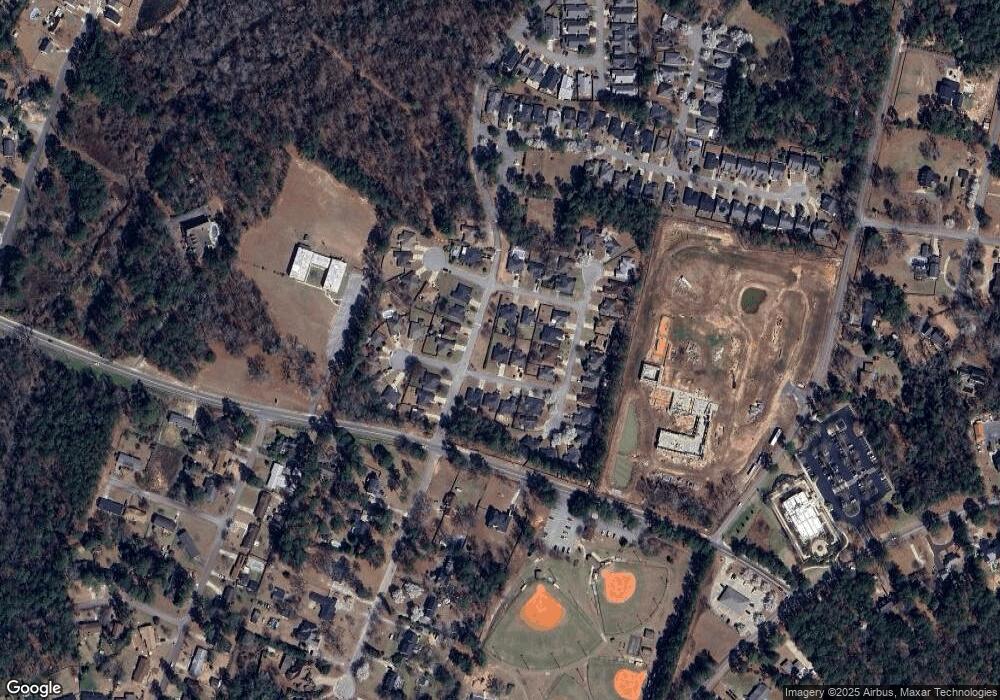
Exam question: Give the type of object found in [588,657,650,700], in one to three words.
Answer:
baseball field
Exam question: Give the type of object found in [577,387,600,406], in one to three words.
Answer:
house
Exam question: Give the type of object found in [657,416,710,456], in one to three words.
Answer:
building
